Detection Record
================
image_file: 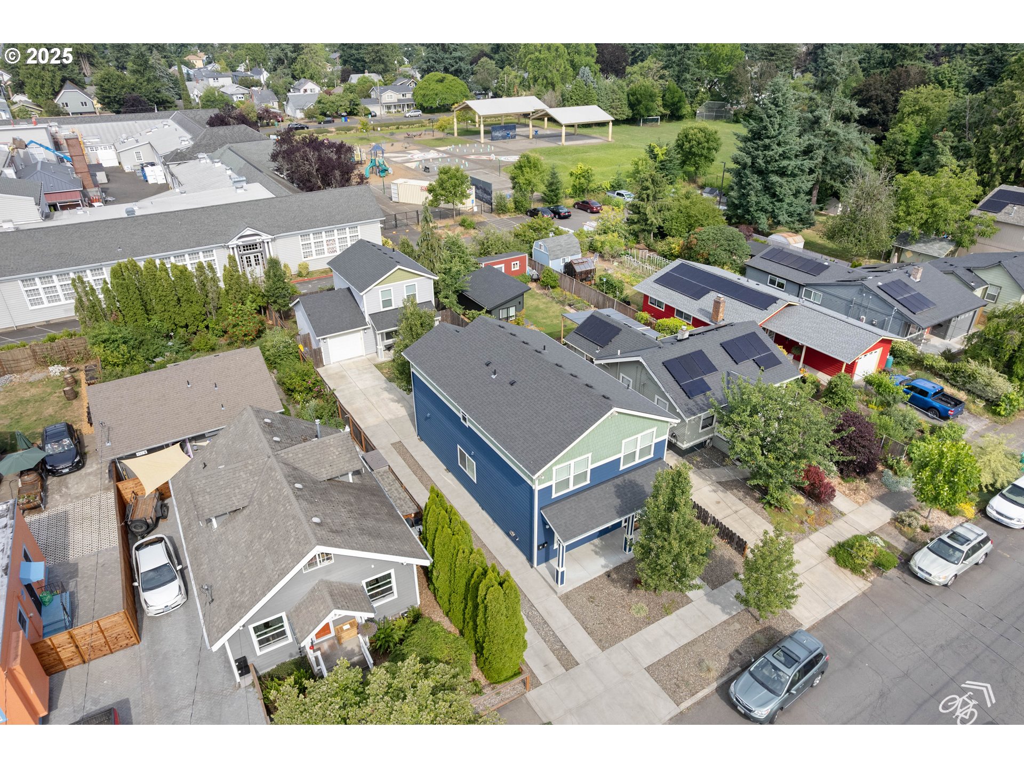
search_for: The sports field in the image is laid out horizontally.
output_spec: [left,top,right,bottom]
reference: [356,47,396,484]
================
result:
[268,111,826,232]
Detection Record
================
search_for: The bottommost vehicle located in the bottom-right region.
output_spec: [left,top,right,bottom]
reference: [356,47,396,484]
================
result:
[717,631,832,729]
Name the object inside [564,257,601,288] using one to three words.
greenhouse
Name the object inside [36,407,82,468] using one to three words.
car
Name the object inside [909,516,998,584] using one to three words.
car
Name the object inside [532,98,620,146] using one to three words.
building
